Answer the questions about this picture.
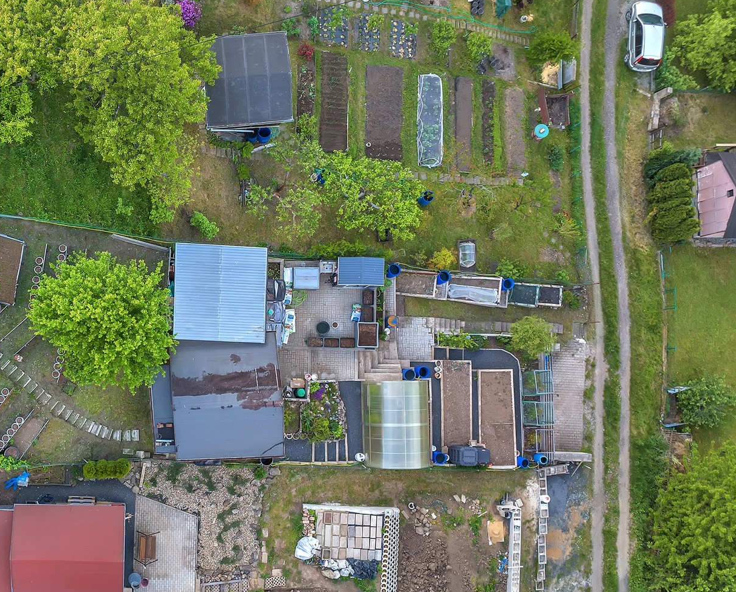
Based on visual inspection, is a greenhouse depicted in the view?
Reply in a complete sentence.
Yes, this view includes a greenhouse.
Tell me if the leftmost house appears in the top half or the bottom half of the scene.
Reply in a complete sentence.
The leftmost house is in the bottom half of the image.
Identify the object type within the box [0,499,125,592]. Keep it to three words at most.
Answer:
house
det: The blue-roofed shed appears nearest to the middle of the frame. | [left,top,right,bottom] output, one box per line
[332,256,384,287]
